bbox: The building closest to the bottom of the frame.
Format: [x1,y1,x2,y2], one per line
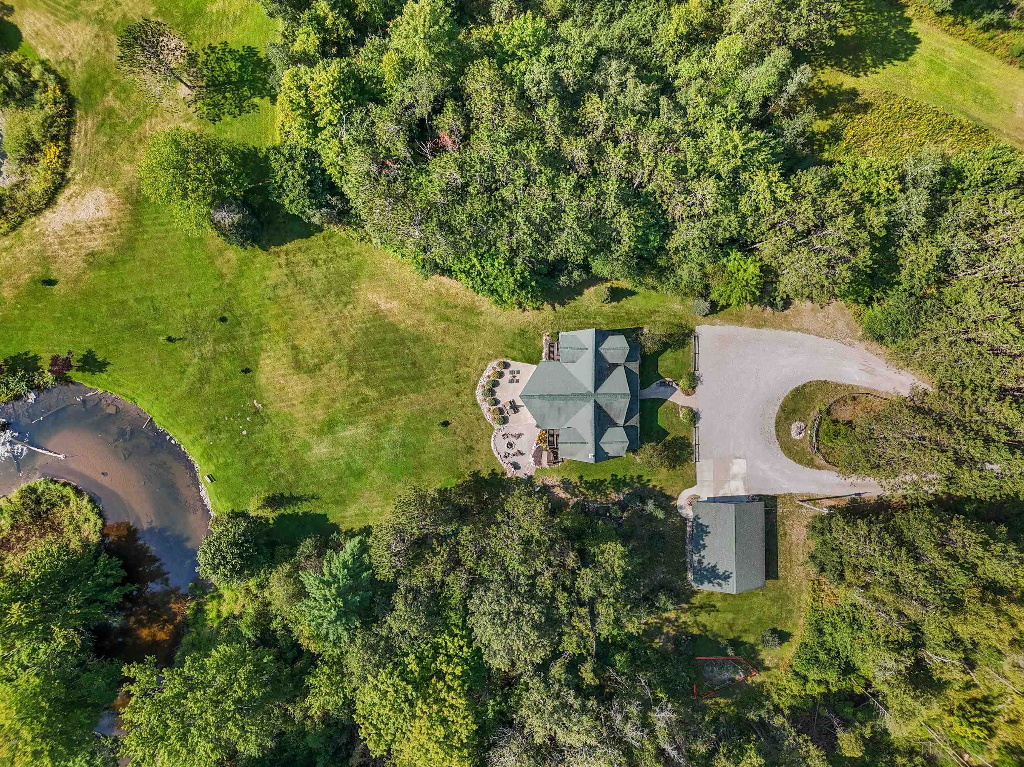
[690,502,766,594]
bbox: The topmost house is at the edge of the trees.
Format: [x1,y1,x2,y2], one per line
[520,328,640,463]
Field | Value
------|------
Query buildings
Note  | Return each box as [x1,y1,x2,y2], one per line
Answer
[520,328,640,463]
[690,502,766,594]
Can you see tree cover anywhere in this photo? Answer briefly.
Yes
